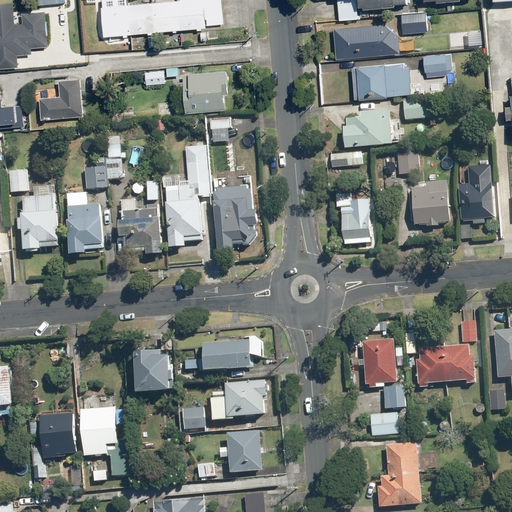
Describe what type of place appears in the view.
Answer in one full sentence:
What you see here is a residential area.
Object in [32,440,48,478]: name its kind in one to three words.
building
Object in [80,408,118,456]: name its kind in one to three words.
house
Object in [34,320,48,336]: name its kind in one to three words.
vehicle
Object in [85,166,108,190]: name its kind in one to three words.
shed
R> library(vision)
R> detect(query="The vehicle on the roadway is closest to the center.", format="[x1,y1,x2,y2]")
[283,266,298,278]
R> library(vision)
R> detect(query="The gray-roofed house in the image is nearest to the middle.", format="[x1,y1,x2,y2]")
[213,187,258,250]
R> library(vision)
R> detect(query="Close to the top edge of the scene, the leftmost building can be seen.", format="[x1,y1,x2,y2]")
[0,4,48,71]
